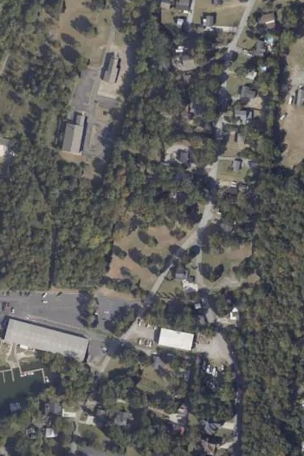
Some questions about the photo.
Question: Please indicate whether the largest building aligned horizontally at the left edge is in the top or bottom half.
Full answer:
You can find the largest building aligned horizontally at the left edge in the bottom half.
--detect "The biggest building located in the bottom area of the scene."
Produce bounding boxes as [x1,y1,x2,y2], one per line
[5,320,90,361]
